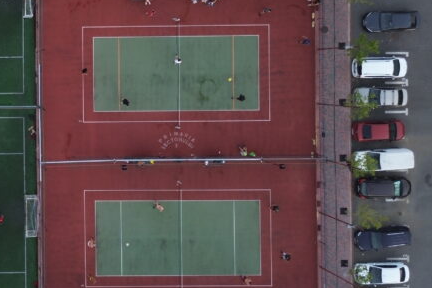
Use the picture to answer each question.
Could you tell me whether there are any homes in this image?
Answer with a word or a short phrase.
No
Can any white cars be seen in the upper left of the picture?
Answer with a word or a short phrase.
No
